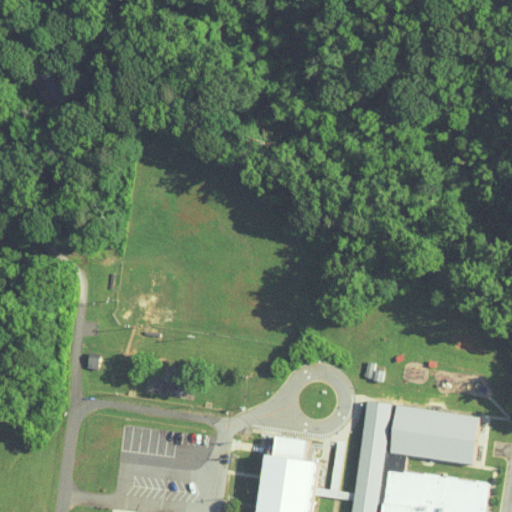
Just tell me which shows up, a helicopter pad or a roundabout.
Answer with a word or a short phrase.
roundabout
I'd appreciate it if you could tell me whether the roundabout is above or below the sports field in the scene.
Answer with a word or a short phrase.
below it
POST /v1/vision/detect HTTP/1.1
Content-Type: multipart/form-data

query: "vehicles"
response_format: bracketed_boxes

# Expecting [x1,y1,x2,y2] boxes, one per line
[176,432,182,444]
[172,482,178,492]
[204,435,210,447]
[196,434,202,445]
[166,432,172,442]
[191,433,196,444]
[188,481,197,496]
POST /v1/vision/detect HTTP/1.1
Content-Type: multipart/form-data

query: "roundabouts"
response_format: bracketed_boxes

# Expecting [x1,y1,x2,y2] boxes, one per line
[232,361,356,440]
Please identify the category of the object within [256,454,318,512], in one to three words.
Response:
building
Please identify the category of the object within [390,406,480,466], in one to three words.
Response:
building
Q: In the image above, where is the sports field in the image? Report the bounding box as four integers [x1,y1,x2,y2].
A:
[115,160,282,344]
